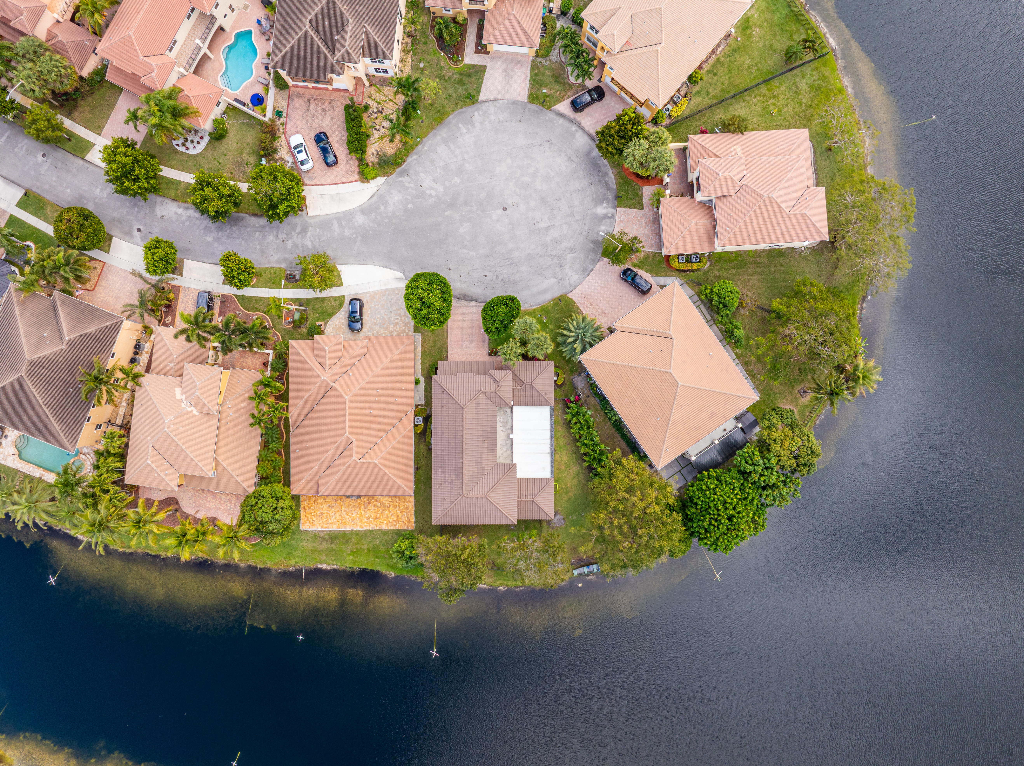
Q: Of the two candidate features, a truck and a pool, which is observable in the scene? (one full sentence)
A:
It is a pool that can be seen here.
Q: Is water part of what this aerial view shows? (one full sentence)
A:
Yes, some water is visible.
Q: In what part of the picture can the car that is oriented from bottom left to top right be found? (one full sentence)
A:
The car that is oriented from bottom left to top right is located in the top region of the scene.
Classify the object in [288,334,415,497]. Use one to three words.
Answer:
house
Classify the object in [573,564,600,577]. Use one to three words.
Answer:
boat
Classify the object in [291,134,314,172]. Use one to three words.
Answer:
car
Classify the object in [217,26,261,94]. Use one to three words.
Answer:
swimming pool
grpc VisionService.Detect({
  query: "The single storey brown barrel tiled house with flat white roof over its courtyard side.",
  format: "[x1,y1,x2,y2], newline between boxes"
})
[432,360,555,526]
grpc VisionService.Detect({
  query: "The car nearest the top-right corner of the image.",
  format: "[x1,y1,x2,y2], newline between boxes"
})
[570,84,605,114]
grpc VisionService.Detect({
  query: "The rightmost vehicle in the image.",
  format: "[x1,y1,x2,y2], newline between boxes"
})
[620,268,653,295]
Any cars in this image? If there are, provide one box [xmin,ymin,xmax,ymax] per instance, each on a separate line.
[291,134,314,172]
[196,289,216,324]
[570,84,605,114]
[315,131,338,168]
[347,298,364,332]
[620,268,653,295]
